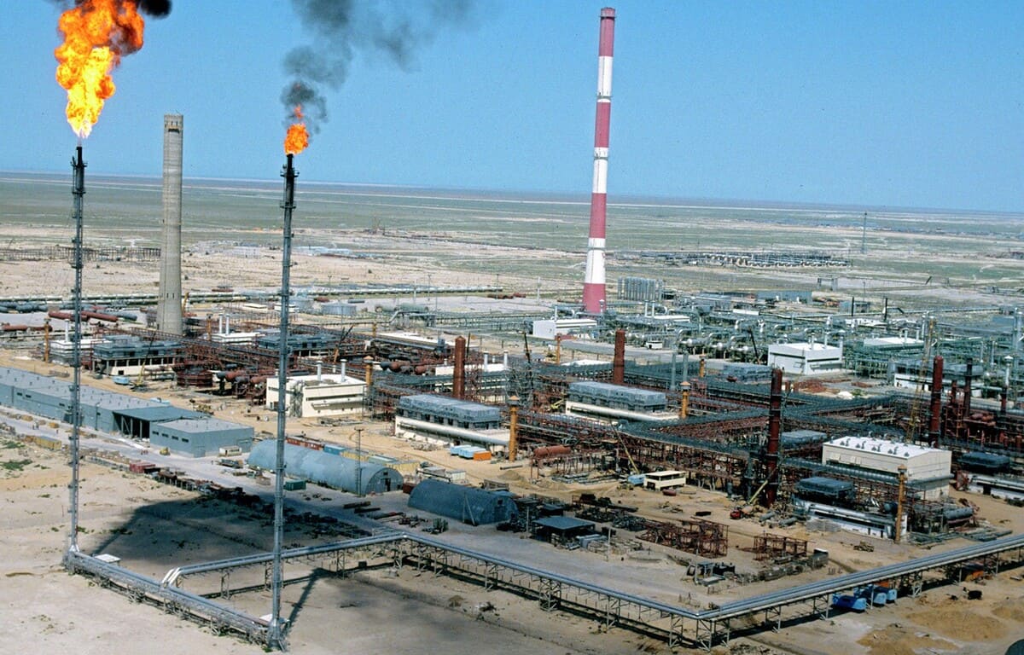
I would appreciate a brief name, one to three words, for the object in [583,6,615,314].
chimney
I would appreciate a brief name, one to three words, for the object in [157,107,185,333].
chimney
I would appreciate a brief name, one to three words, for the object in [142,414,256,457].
building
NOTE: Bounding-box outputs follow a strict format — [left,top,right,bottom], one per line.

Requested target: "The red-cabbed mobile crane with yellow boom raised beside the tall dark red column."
[724,475,779,519]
